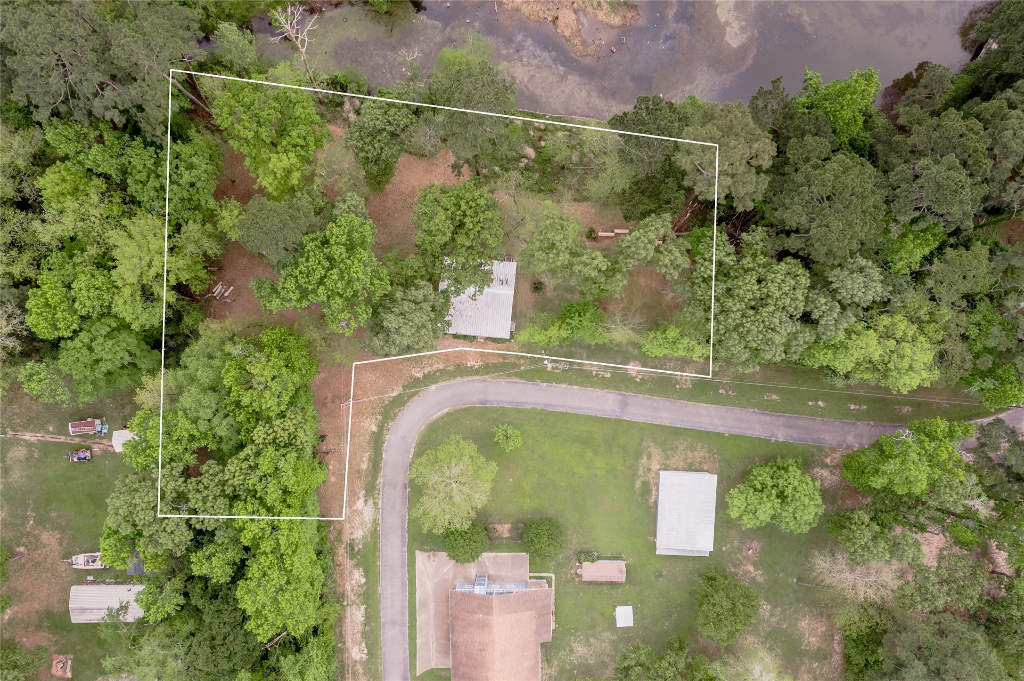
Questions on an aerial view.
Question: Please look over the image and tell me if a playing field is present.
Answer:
No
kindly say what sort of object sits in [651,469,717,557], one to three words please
building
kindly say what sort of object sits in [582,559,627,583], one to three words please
shed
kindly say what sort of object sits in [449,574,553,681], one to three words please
house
